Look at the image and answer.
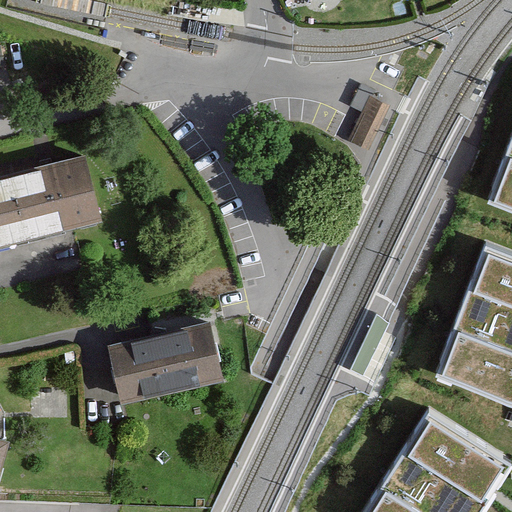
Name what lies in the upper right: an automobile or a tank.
automobile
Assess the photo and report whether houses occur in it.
Yes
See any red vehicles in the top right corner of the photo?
No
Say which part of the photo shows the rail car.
top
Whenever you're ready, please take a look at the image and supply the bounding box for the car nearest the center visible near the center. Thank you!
[238,252,262,266]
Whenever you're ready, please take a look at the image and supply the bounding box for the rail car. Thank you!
[185,18,226,38]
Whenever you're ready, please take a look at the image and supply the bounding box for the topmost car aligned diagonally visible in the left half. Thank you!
[172,120,195,140]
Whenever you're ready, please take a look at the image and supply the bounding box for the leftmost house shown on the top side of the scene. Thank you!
[0,154,102,248]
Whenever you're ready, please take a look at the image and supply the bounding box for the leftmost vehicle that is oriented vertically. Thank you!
[10,43,23,70]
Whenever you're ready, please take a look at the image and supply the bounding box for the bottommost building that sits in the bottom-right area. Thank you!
[360,404,512,512]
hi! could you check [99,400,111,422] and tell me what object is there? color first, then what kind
gray vehicle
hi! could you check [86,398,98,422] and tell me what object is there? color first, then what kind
white vehicle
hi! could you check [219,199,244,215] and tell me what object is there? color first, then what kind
white car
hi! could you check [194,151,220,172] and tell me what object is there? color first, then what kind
white vehicle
